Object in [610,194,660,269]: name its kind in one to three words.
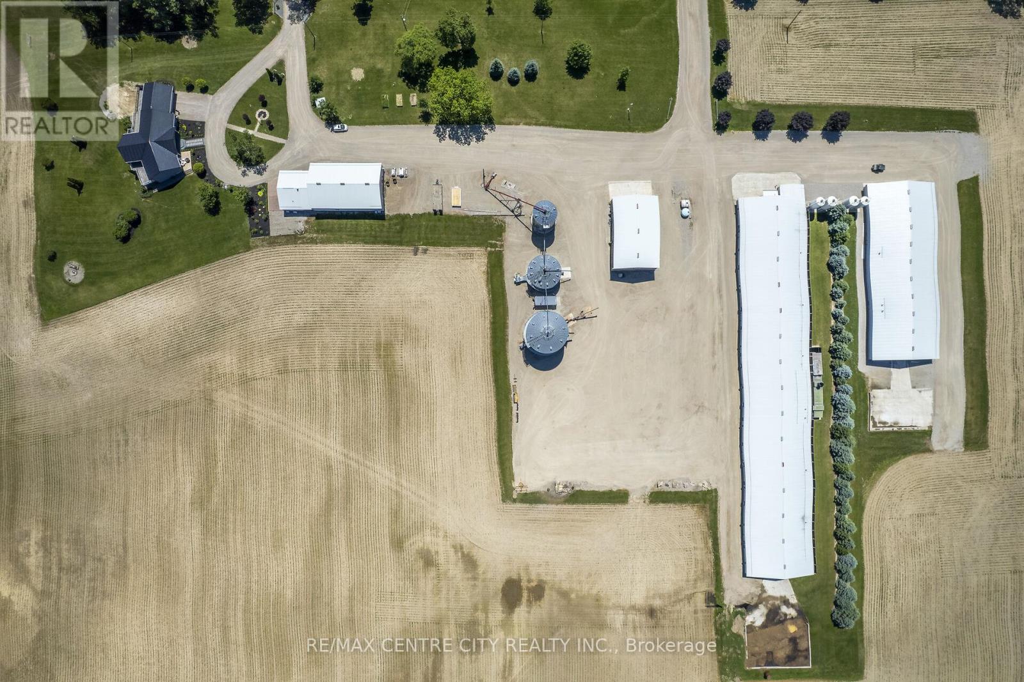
shed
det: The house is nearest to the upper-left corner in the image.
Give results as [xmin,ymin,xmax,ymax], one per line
[118,82,185,193]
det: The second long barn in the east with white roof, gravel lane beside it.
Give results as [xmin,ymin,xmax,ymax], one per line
[860,180,940,360]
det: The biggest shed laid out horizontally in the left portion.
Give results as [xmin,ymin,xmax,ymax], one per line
[277,163,383,211]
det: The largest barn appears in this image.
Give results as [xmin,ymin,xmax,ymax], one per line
[735,184,814,579]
